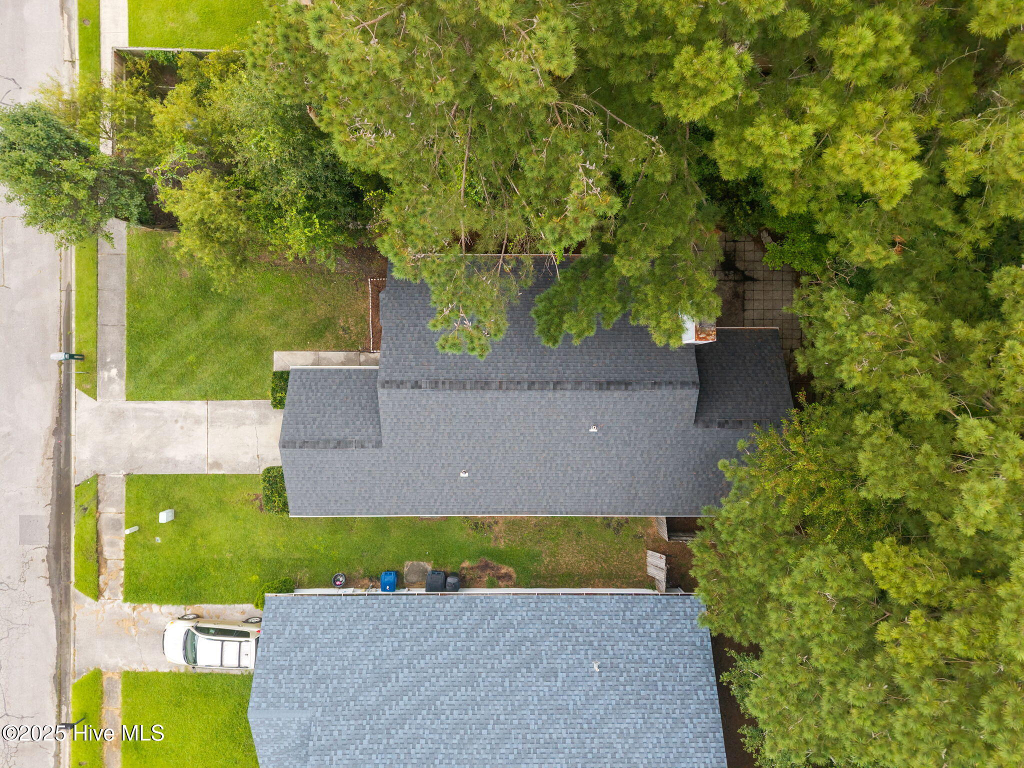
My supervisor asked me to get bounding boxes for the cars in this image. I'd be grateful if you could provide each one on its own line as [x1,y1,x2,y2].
[161,615,261,673]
